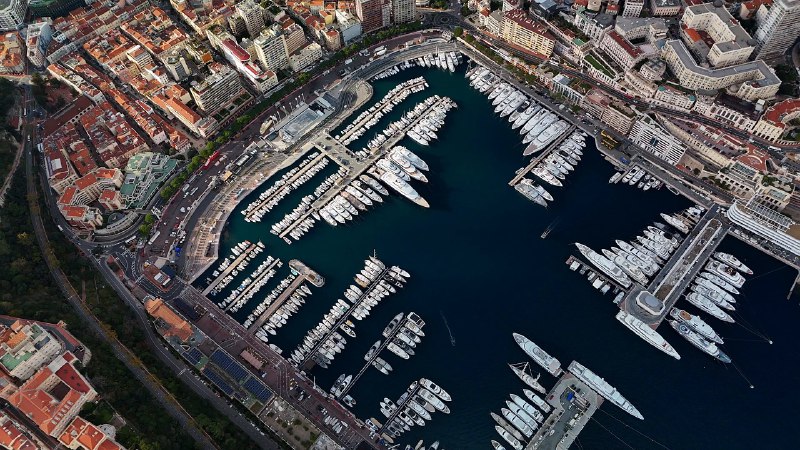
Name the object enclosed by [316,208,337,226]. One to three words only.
boat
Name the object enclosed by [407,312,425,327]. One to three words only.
boat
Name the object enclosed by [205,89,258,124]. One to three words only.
building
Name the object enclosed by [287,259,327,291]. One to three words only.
pier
